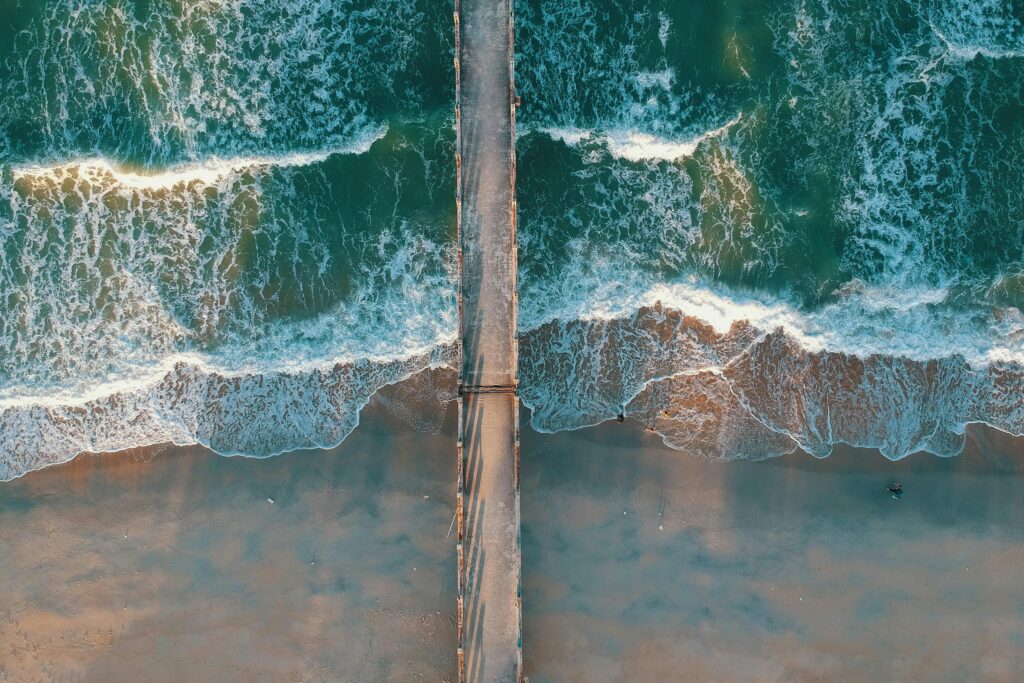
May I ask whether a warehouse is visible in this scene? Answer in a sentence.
No, no warehouse is visible in the view.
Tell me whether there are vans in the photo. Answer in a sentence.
No, there's no van here.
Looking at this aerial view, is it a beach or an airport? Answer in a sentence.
The picture captures a beach.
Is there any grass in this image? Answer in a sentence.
No, grass can't be seen anywhere here.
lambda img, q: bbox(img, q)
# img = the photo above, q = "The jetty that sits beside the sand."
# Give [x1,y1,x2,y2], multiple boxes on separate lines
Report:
[455,0,529,683]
